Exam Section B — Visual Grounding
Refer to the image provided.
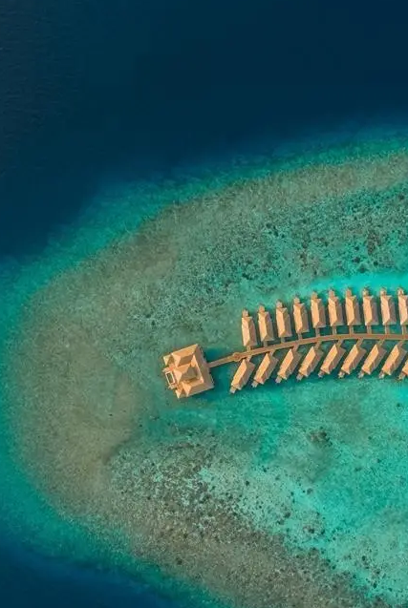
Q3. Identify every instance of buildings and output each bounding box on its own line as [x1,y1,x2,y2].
[379,288,396,325]
[273,349,302,384]
[295,347,324,381]
[327,289,343,326]
[293,296,309,334]
[241,309,257,346]
[362,288,378,326]
[344,288,361,326]
[163,344,214,399]
[378,345,407,378]
[251,354,278,387]
[257,305,273,342]
[358,344,387,377]
[397,288,408,325]
[275,300,293,338]
[336,344,365,377]
[316,344,345,377]
[310,290,326,328]
[228,359,256,394]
